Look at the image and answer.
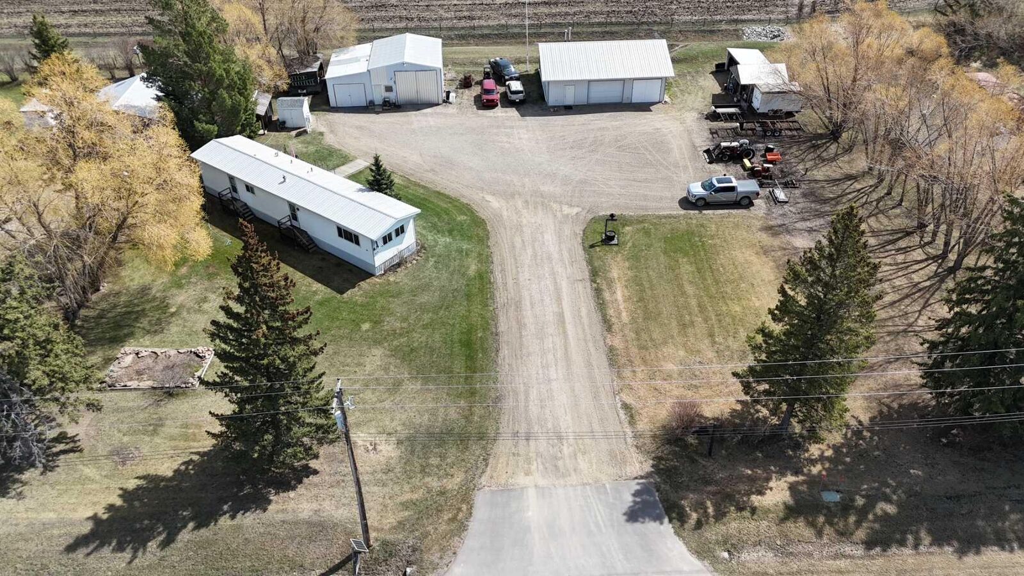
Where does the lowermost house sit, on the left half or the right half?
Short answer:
left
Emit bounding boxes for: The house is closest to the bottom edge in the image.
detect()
[188,138,421,275]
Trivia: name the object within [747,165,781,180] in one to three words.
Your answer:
work vehicle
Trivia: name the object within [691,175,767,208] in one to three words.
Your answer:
truck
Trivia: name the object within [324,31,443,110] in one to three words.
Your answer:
building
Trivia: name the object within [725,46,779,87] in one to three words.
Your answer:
shed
